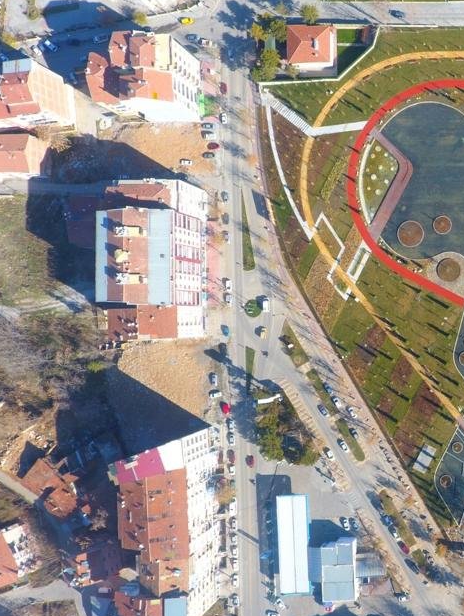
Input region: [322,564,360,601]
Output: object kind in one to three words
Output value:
building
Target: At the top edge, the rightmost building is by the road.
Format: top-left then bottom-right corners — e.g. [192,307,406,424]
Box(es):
[287,24,335,68]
